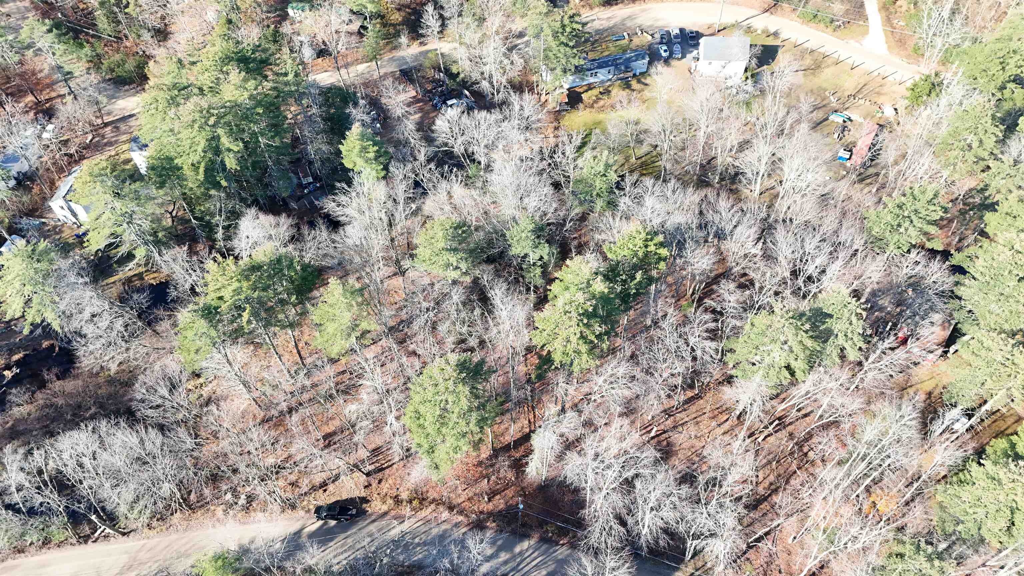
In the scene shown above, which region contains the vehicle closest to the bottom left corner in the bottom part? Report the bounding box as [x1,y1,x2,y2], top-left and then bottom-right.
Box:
[313,503,359,522]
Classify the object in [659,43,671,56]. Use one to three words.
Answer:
vehicle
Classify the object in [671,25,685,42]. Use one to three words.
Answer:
vehicle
